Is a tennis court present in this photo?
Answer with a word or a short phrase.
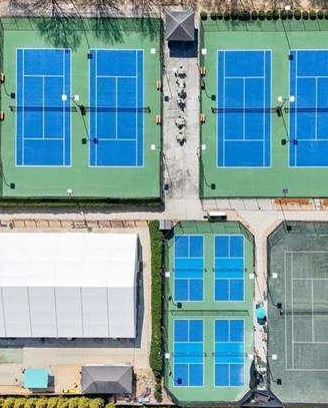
Yes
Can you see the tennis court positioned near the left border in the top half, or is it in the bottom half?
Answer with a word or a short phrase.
top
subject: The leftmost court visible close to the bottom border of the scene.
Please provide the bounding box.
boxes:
[166,311,209,403]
